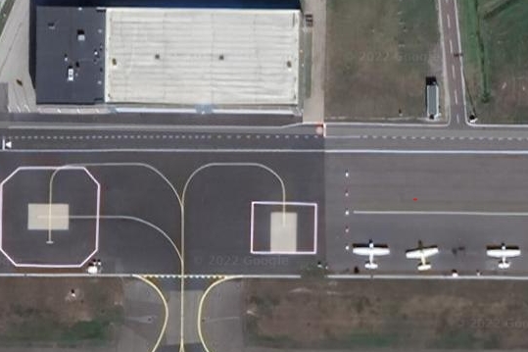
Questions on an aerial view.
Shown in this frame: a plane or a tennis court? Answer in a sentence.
This aerial view contains a plane.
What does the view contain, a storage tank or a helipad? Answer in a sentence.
The image shows a helipad.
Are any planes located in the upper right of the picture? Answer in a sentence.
No, there is no plane in the upper right of the picture.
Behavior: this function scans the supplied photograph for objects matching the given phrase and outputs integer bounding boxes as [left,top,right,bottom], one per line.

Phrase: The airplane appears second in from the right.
[405,246,438,273]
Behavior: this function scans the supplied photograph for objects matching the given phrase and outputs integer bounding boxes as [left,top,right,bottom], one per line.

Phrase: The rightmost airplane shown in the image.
[486,246,520,271]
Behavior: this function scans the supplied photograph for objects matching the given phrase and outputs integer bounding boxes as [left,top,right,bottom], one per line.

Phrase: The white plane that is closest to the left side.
[352,243,389,270]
